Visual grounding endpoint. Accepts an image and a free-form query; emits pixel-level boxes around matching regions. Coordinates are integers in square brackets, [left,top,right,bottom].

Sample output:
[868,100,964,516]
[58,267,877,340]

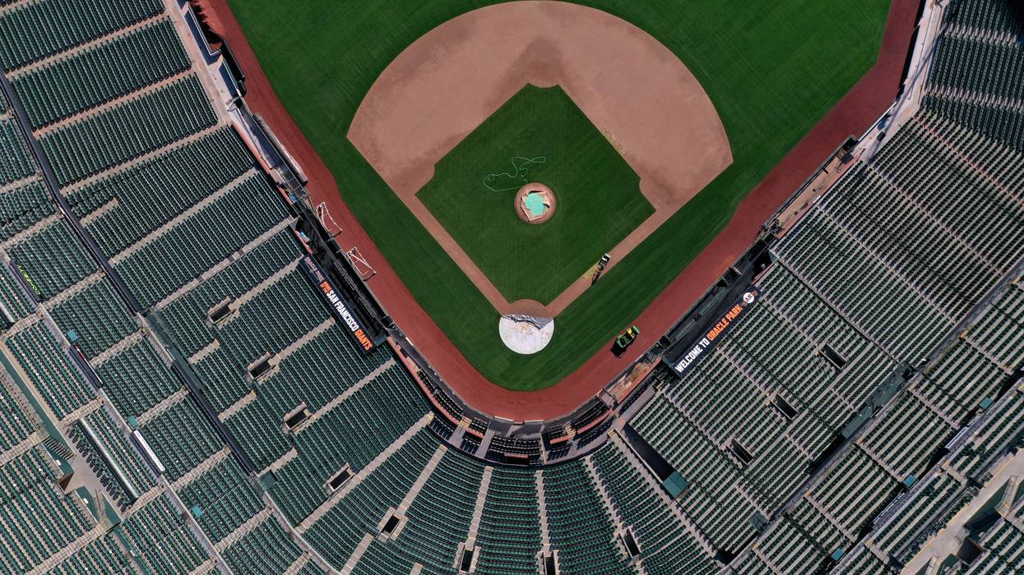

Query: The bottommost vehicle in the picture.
[617,327,641,349]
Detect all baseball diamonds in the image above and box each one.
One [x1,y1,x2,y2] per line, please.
[188,0,920,424]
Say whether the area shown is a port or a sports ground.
sports ground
